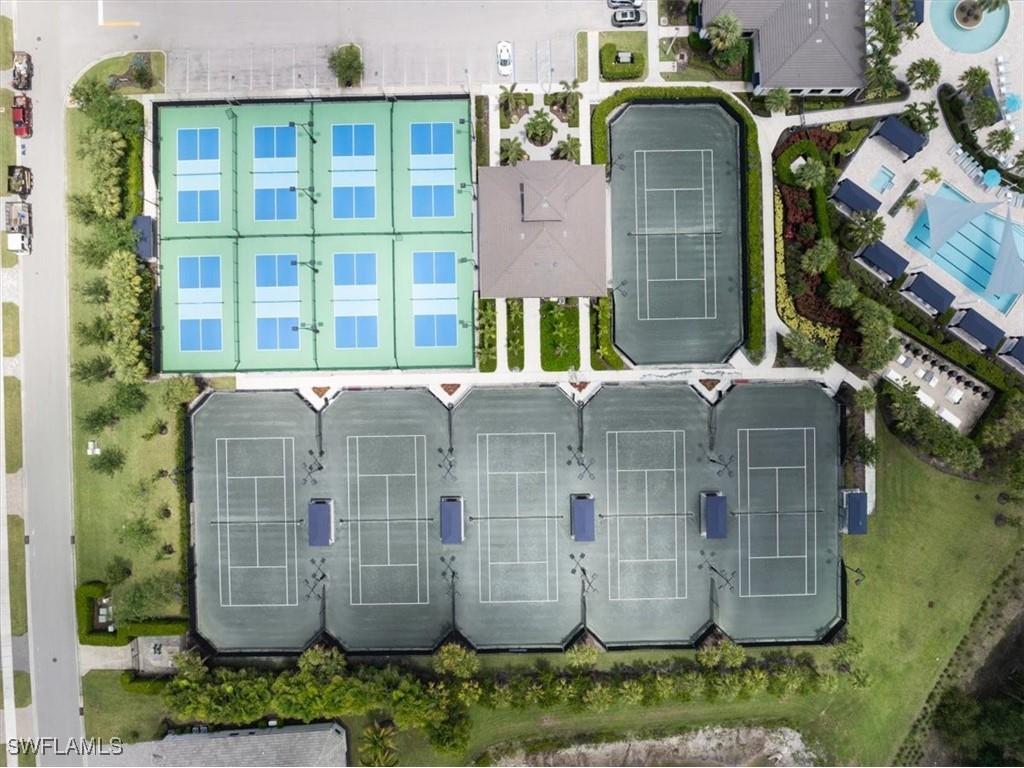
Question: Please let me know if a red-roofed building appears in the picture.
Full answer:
No, I can see no red-roofed building in this picture.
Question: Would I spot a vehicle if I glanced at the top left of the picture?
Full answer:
Yes, there is a vehicle at the top left of the picture.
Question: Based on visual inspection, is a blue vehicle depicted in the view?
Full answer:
No, no blue vehicle can be seen from above.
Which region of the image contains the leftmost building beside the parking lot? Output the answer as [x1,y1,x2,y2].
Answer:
[477,160,607,299]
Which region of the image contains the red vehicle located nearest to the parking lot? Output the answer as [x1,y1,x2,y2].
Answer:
[11,94,33,138]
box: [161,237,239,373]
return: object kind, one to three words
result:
sports court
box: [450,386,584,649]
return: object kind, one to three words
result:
tennis court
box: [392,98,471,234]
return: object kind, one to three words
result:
sports court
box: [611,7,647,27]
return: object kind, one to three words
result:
car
